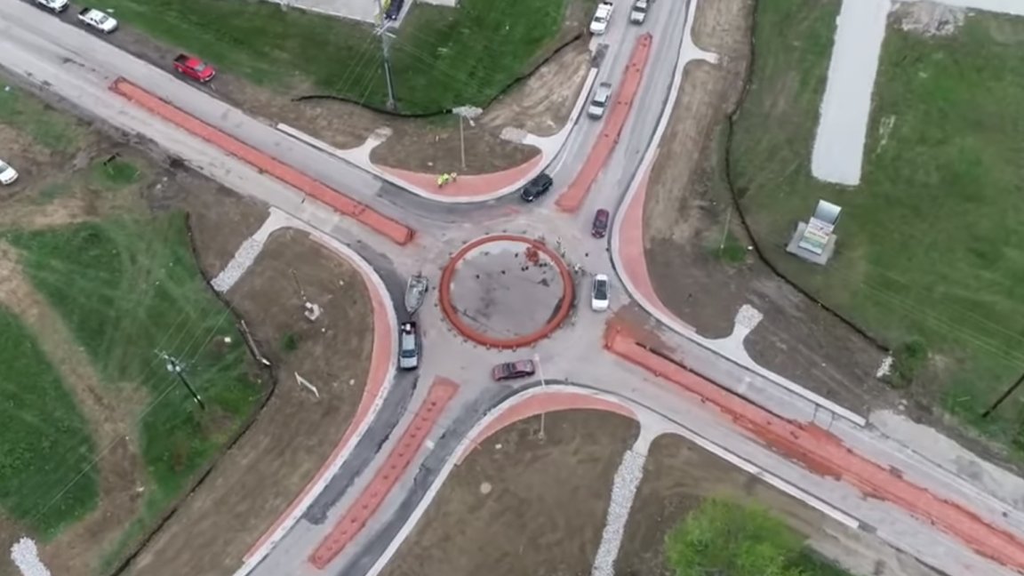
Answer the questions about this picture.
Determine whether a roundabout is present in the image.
Yes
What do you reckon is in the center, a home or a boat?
boat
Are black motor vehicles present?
Yes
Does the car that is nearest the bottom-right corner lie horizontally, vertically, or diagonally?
vertically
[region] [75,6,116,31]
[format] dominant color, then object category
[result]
white truck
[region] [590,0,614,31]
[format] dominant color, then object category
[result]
white truck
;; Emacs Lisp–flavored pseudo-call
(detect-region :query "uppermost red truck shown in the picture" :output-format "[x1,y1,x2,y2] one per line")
[170,52,213,80]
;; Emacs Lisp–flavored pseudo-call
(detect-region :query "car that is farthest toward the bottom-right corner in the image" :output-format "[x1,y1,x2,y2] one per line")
[591,271,612,312]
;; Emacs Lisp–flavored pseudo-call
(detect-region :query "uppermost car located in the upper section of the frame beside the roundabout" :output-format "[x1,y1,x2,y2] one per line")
[520,169,556,202]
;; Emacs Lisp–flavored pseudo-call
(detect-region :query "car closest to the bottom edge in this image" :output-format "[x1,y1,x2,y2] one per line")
[490,357,538,380]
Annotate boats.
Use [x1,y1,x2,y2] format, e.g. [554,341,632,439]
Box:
[402,264,427,310]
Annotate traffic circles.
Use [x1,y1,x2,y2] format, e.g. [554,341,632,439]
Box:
[404,210,614,384]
